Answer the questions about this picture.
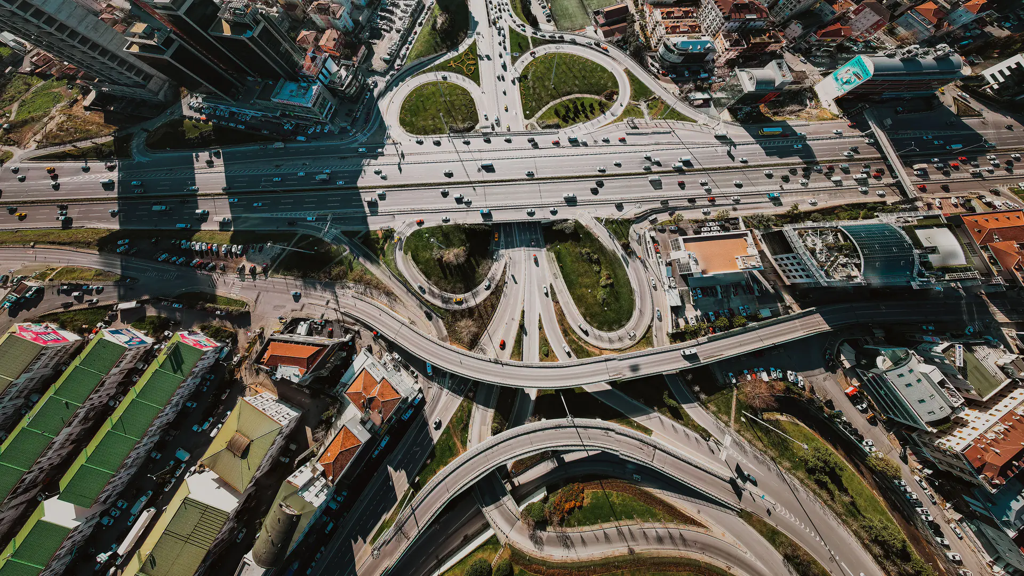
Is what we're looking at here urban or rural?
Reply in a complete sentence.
This place is urban.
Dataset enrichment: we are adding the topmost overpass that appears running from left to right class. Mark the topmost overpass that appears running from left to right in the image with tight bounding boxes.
[266,287,1024,390]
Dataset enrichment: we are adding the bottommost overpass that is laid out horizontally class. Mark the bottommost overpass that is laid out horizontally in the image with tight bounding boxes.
[347,415,857,576]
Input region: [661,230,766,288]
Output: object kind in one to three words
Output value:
building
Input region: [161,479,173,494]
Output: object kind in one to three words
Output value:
vehicle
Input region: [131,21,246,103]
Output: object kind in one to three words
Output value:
building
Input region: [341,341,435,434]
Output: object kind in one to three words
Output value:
house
